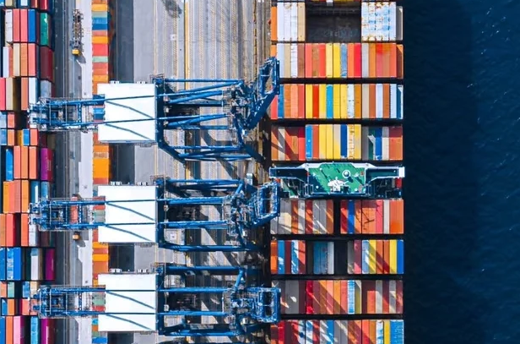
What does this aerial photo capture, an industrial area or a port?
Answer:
port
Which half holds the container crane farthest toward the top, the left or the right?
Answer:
left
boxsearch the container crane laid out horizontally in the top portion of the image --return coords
[27,60,279,178]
